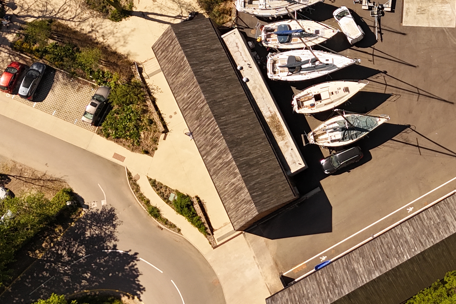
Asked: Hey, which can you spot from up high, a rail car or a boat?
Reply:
boat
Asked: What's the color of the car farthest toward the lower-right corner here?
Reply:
black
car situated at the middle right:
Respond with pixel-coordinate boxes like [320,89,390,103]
[320,144,365,177]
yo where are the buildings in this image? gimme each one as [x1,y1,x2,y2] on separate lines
[265,190,456,304]
[152,18,310,231]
